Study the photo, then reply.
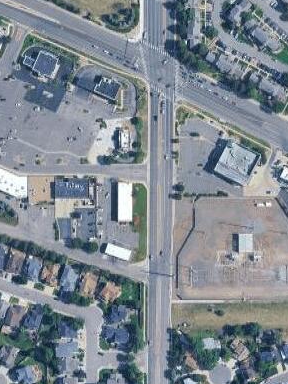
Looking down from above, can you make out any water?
No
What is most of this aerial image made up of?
paved ground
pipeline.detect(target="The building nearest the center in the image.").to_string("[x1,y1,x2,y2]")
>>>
[118,183,133,222]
